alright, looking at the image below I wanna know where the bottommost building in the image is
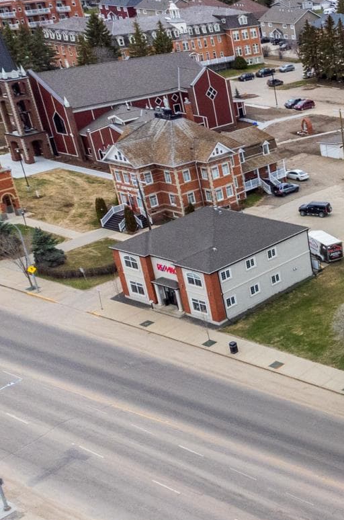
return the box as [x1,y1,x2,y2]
[105,206,314,325]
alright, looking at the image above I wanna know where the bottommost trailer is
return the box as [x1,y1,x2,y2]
[302,228,341,259]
